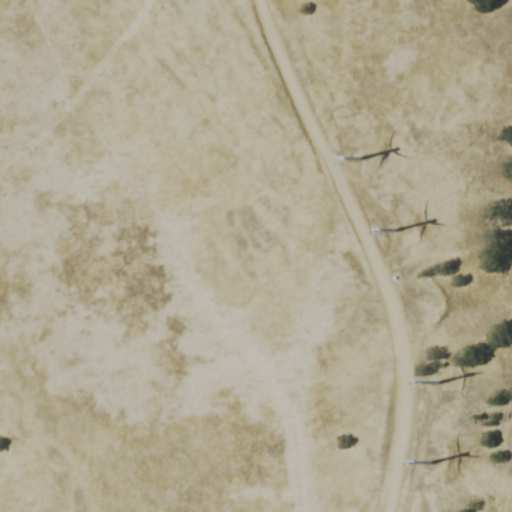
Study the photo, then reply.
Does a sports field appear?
No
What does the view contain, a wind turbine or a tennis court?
wind turbine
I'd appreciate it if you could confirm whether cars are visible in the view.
No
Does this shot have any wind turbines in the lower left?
No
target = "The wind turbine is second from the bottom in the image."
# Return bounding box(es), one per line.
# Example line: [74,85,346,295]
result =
[409,365,442,400]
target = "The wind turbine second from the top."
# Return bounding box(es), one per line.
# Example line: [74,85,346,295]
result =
[367,210,399,244]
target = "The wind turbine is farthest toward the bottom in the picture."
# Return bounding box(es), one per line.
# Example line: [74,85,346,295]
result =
[404,444,436,478]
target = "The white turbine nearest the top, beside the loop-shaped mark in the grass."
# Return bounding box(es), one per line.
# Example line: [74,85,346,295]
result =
[332,138,364,170]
